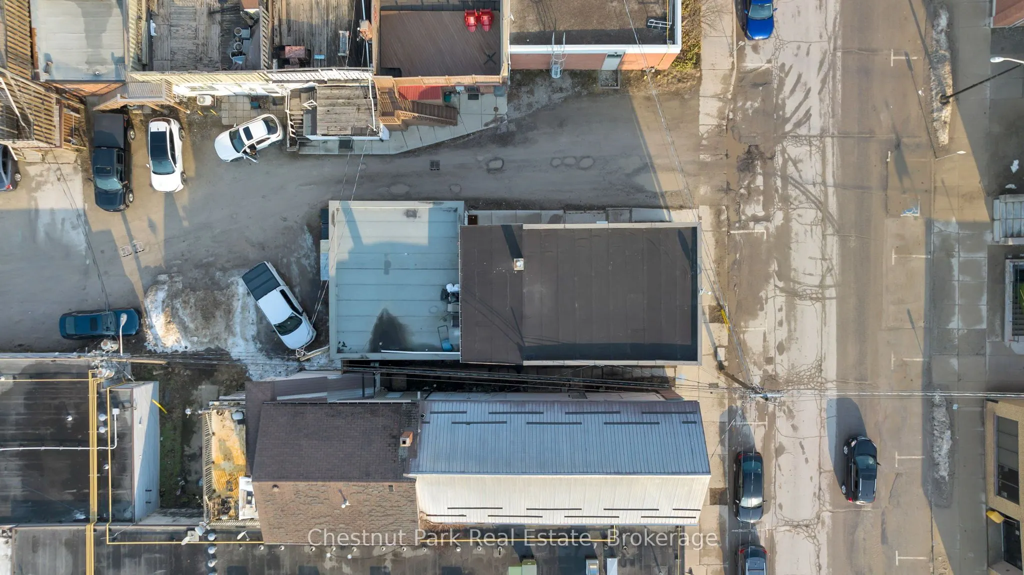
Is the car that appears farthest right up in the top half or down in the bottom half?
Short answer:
bottom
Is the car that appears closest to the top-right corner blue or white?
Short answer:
blue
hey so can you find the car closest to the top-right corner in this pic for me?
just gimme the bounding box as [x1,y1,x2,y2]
[740,0,778,43]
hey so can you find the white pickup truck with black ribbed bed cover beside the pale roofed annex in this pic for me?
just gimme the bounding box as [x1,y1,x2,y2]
[242,260,316,348]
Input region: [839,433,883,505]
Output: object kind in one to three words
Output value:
car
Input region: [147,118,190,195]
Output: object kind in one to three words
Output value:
car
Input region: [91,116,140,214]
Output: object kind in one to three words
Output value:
truck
